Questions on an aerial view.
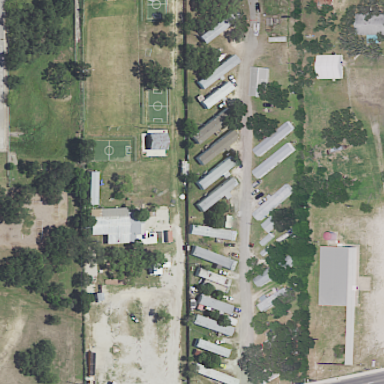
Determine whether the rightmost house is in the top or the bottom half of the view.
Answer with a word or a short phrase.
top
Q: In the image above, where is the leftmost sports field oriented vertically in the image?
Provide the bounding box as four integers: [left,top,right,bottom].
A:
[84,0,138,136]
